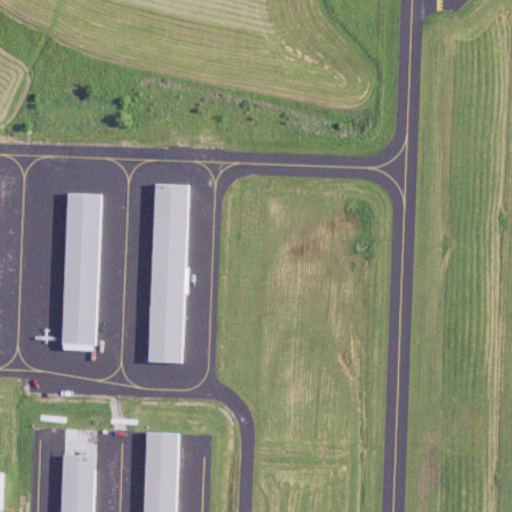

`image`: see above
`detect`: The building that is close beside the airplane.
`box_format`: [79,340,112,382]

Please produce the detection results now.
[62,194,104,353]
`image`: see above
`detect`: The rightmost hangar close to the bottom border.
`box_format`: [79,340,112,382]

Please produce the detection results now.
[144,432,181,512]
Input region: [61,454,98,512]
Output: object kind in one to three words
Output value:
hangar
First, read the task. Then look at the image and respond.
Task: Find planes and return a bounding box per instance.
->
[34,328,56,344]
